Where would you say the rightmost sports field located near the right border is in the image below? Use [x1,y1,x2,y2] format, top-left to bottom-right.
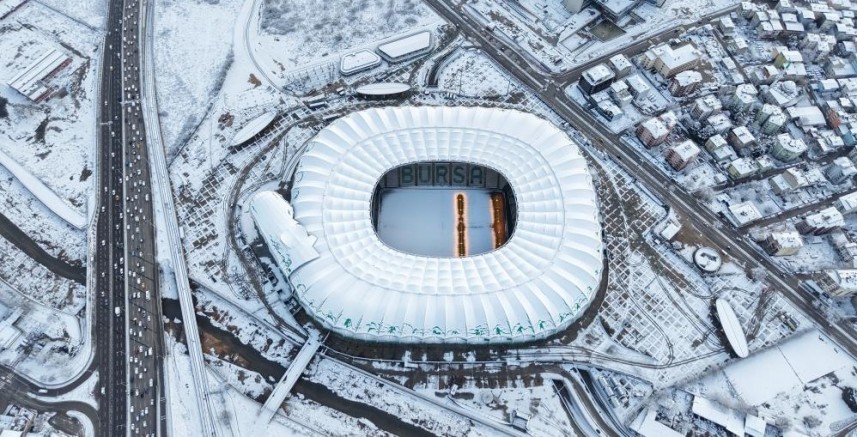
[781,330,843,382]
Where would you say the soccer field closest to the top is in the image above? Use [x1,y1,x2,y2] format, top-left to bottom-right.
[380,189,511,257]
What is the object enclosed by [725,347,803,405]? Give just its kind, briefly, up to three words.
sports field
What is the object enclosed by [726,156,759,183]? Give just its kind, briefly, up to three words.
building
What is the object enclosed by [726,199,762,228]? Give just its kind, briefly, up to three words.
house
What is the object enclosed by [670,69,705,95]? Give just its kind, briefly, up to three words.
building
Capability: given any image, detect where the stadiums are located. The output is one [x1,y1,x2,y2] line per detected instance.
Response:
[255,111,603,345]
